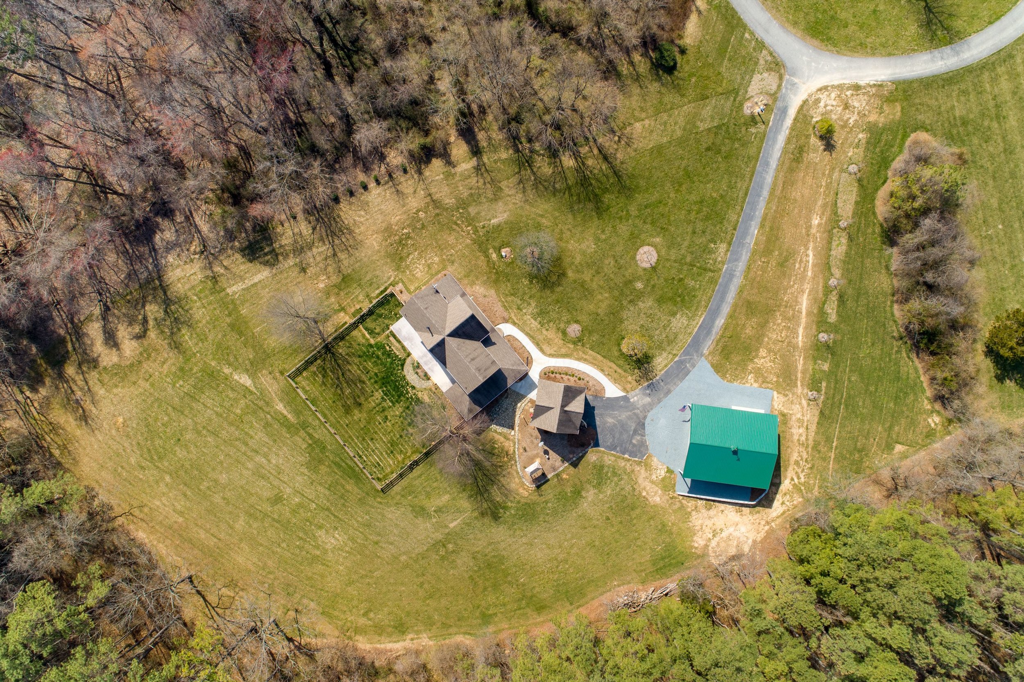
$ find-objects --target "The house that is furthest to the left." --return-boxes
[399,273,530,420]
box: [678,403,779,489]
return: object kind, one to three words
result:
barn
